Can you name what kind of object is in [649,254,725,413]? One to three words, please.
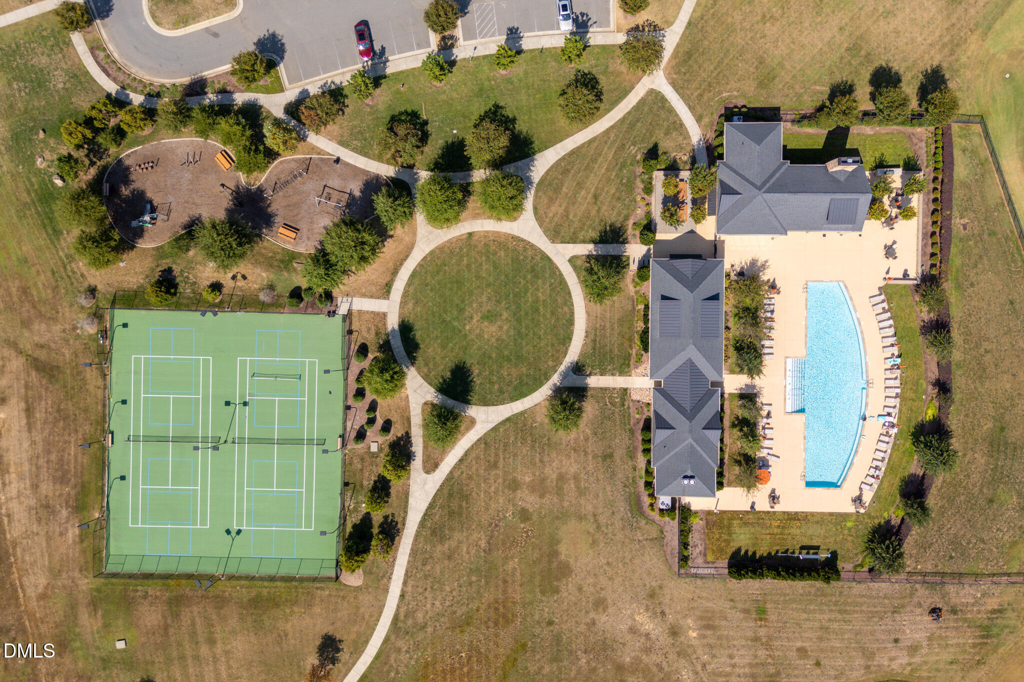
building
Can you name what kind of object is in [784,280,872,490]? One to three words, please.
swimming pool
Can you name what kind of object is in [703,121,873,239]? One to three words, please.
building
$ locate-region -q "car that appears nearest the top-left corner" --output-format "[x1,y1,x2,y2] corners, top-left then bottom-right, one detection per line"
[354,23,372,60]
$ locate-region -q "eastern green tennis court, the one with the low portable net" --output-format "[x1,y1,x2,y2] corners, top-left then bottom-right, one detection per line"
[221,313,346,576]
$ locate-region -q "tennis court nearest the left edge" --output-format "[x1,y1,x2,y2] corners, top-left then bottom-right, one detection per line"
[105,310,226,574]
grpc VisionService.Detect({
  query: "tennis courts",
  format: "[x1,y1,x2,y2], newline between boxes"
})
[105,310,226,574]
[221,313,346,576]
